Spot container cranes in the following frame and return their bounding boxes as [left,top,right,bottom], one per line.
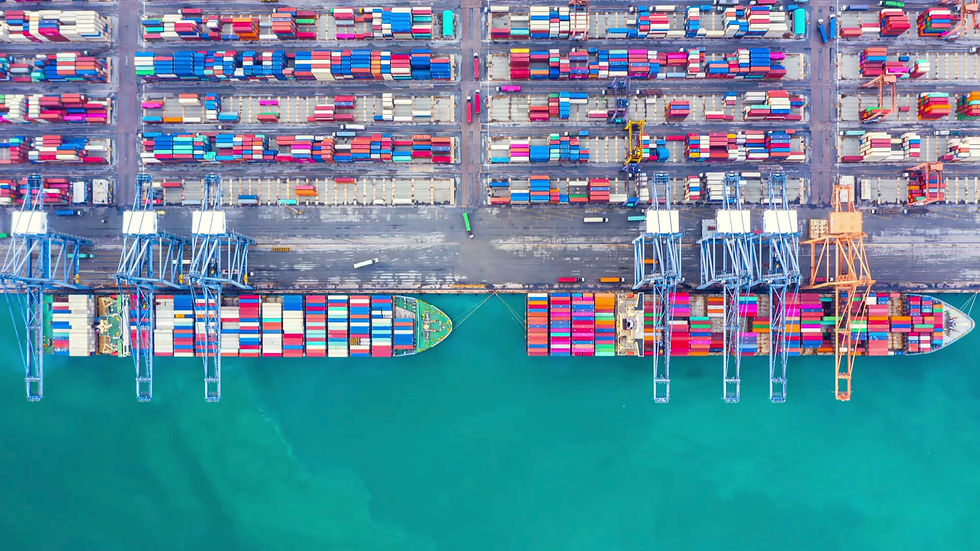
[941,0,977,43]
[618,159,643,209]
[0,173,99,401]
[730,173,805,401]
[689,173,756,401]
[187,173,259,401]
[620,115,644,165]
[793,184,876,400]
[606,73,630,125]
[626,173,682,401]
[568,0,590,43]
[114,173,197,401]
[861,72,895,125]
[908,158,944,209]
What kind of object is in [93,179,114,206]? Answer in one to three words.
shed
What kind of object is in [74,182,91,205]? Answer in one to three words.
shed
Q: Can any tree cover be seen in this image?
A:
No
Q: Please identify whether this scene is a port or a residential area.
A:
port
